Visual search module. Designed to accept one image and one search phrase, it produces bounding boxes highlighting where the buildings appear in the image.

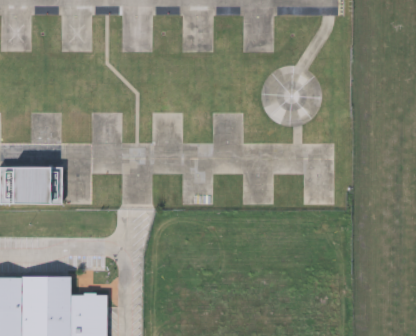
[0,166,63,205]
[0,277,72,336]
